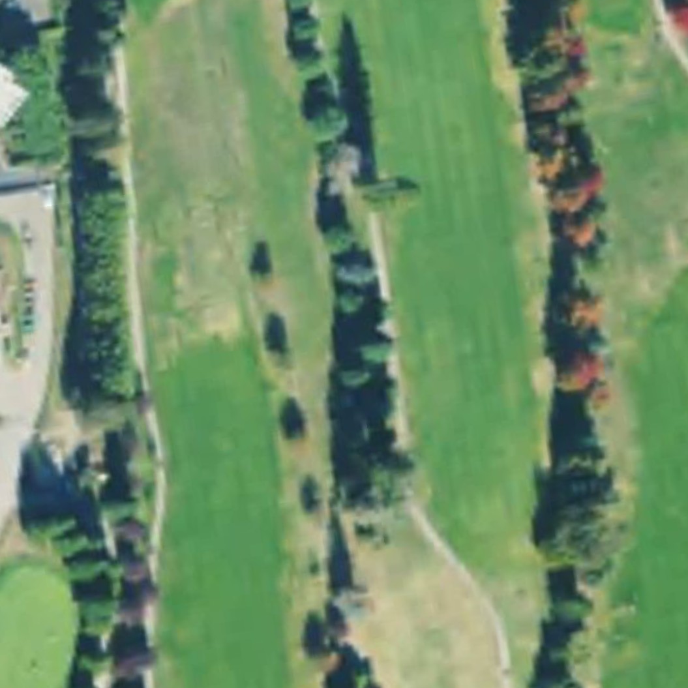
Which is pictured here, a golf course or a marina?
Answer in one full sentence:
The picture captures a golf course.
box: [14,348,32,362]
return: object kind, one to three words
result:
car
